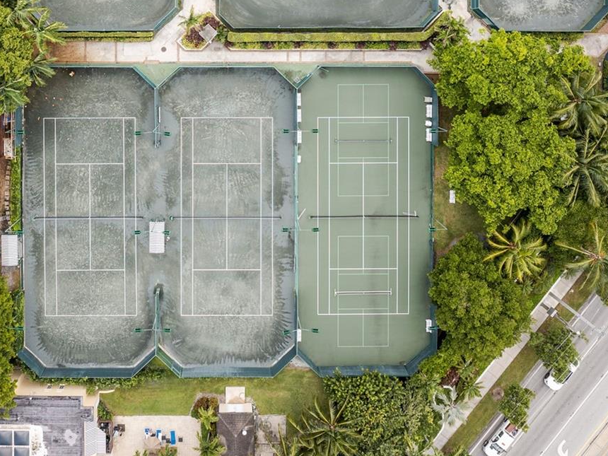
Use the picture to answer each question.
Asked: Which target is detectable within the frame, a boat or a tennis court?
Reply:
tennis court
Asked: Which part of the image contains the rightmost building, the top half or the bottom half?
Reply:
bottom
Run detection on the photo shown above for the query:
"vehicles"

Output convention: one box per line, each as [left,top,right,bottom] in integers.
[485,417,527,456]
[545,373,573,393]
